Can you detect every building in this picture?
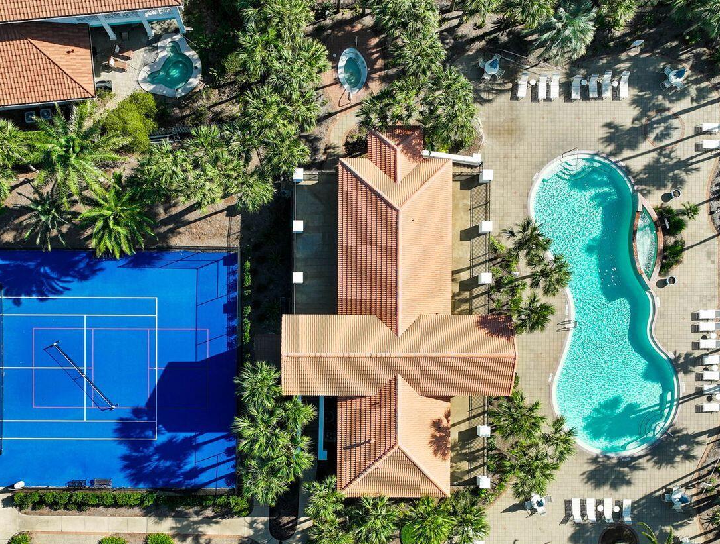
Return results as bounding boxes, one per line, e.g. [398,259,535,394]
[281,124,524,500]
[0,0,189,111]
